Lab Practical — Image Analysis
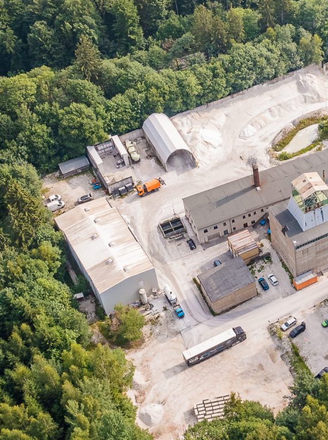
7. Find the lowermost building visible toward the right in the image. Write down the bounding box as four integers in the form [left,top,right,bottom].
[195,257,257,315]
